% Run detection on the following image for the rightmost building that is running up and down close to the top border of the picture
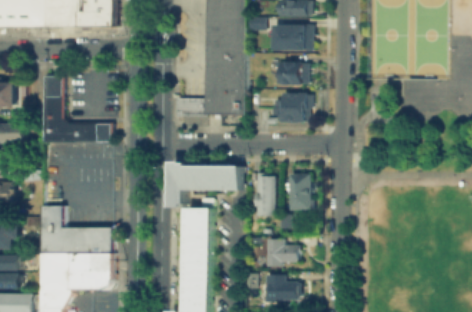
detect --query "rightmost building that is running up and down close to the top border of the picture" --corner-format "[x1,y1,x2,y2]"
[206,0,251,113]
